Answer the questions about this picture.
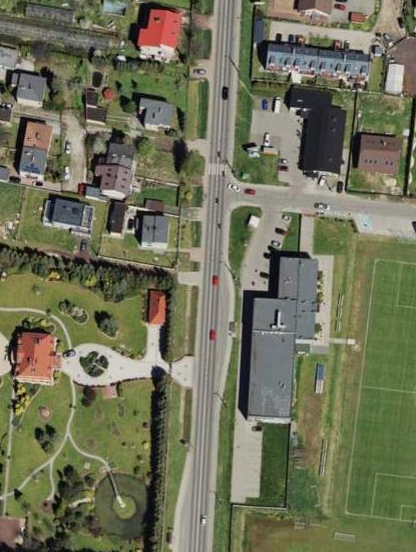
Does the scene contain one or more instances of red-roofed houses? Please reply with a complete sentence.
Yes, the image includes a red-roofed house.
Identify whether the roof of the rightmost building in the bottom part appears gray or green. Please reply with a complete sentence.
In this view, the roof of the rightmost building in the bottom part is gray.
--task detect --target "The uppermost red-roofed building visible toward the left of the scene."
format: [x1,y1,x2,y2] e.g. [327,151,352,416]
[137,8,181,51]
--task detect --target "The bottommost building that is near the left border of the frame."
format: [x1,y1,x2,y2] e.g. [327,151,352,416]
[14,333,59,383]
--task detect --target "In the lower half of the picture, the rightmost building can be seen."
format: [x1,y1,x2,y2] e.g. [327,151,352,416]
[248,257,318,423]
